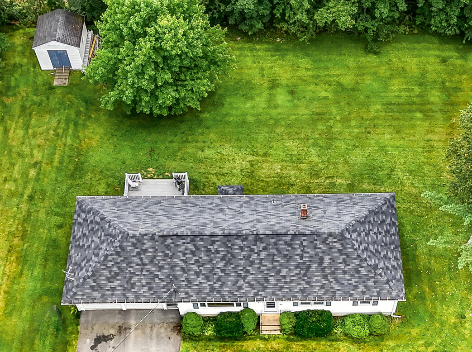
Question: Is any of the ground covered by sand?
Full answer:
No, there is no sand in the image.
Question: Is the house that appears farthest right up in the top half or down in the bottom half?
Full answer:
It is in the bottom half that the house that appears farthest right appears.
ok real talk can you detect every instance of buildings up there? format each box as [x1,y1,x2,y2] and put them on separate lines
[60,186,407,316]
[33,6,88,69]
